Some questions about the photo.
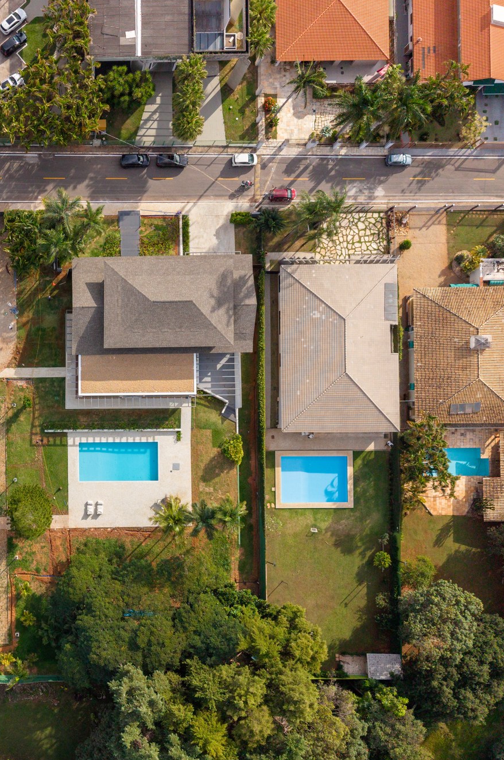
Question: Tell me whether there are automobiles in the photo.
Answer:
Yes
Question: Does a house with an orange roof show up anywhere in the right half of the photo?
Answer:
Yes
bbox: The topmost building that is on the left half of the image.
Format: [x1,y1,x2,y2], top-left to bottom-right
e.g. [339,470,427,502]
[86,0,250,93]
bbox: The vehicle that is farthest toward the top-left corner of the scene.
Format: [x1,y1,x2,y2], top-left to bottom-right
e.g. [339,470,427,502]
[0,9,29,33]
